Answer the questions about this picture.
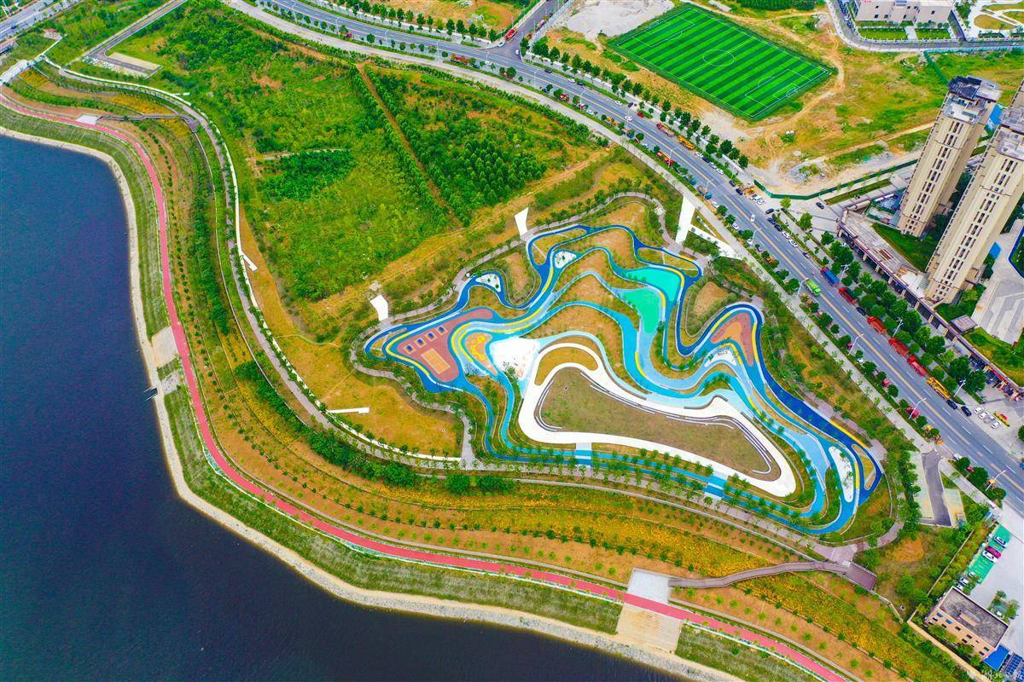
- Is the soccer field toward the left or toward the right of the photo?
right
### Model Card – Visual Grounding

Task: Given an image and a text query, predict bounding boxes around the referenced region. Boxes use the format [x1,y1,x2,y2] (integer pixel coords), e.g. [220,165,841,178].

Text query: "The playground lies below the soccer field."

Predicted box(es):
[357,224,885,535]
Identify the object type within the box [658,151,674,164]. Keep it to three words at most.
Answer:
vehicle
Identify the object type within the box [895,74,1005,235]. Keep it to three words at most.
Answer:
building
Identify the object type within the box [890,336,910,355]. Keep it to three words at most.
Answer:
vehicle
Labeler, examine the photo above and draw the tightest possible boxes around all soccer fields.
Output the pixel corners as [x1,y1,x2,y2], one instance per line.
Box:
[608,2,839,121]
